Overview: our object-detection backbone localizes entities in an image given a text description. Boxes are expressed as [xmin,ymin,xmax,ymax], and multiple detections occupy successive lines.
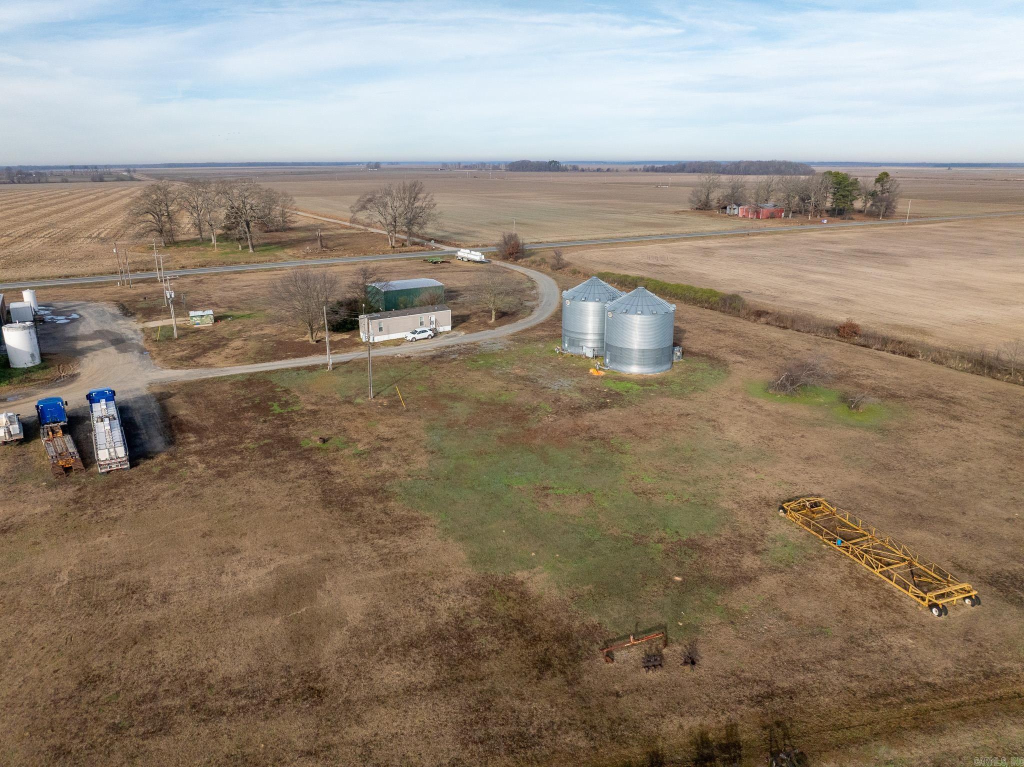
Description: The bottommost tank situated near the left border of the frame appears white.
[0,319,46,369]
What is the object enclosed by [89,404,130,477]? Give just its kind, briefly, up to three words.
trailer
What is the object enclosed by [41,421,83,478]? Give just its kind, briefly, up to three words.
trailer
